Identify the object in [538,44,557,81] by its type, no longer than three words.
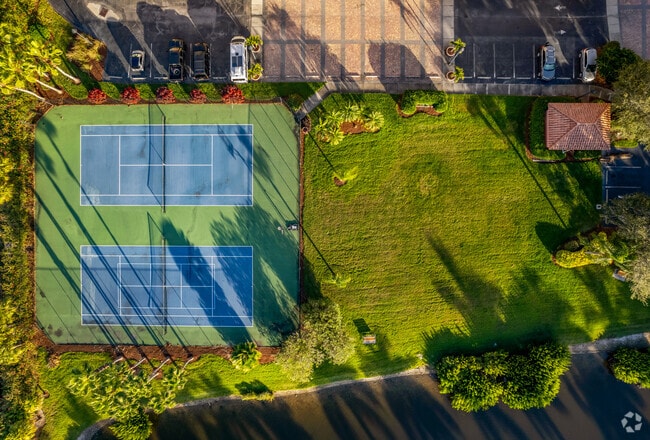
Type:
car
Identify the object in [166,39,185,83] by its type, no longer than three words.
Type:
vehicle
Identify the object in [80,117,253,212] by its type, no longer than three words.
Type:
tennis court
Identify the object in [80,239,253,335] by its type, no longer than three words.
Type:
tennis court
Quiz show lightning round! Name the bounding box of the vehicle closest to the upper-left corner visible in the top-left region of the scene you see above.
[128,51,145,73]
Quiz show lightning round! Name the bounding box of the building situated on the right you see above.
[545,102,613,150]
